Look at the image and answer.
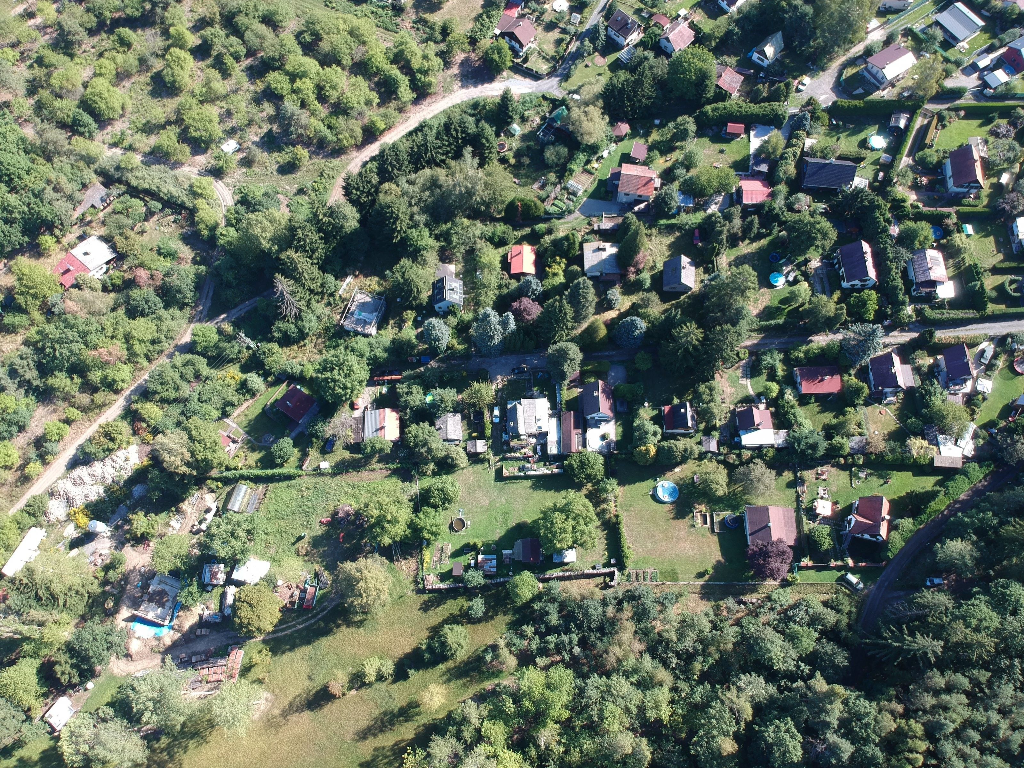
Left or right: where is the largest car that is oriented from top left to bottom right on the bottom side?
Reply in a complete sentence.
The largest car that is oriented from top left to bottom right on the bottom side appears in the right half of the scene.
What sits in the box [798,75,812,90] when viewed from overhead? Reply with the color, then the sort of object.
white car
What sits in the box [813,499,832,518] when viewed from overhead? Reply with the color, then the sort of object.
white gazebo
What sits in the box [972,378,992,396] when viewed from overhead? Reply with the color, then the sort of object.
white gazebo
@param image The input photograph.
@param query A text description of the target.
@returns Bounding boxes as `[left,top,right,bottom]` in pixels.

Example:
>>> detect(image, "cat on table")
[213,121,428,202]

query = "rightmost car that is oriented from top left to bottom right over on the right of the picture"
[841,570,866,592]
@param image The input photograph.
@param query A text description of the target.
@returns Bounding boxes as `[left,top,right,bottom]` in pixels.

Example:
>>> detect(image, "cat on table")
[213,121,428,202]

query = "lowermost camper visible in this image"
[46,697,80,729]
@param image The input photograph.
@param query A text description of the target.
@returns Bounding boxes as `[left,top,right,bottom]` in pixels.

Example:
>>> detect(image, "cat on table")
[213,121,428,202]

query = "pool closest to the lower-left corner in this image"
[447,514,469,537]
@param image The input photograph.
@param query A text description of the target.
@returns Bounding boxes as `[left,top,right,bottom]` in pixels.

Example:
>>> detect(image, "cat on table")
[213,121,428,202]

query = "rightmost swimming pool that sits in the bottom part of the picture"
[656,481,678,504]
